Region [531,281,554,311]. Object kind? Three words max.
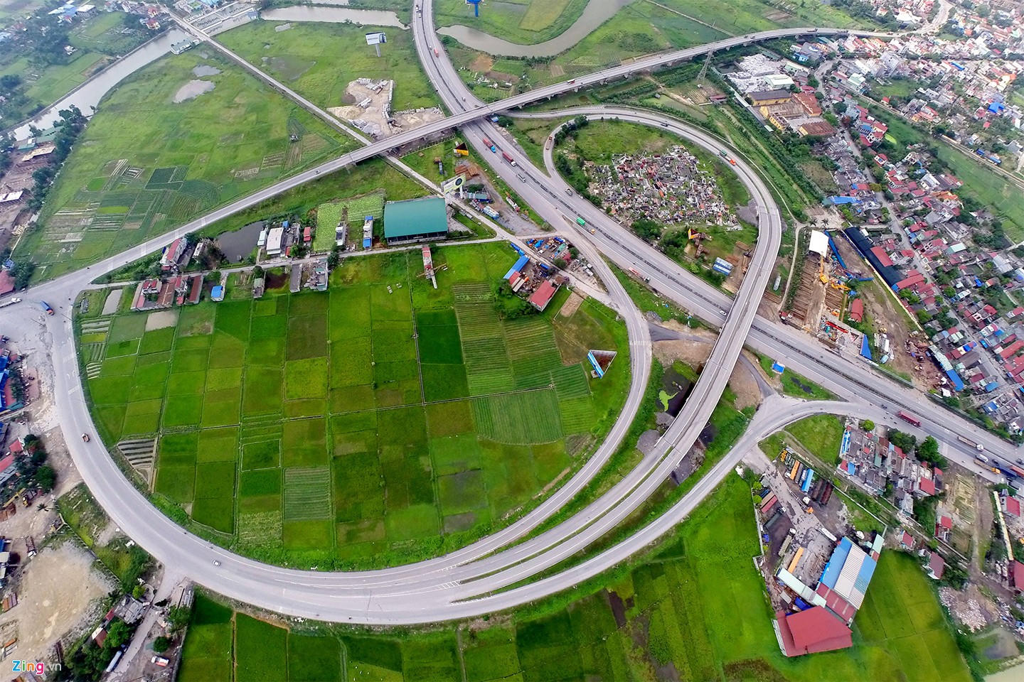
house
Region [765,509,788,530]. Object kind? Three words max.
truck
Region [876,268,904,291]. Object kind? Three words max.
shed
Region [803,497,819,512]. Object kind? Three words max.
vehicle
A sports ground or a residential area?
residential area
